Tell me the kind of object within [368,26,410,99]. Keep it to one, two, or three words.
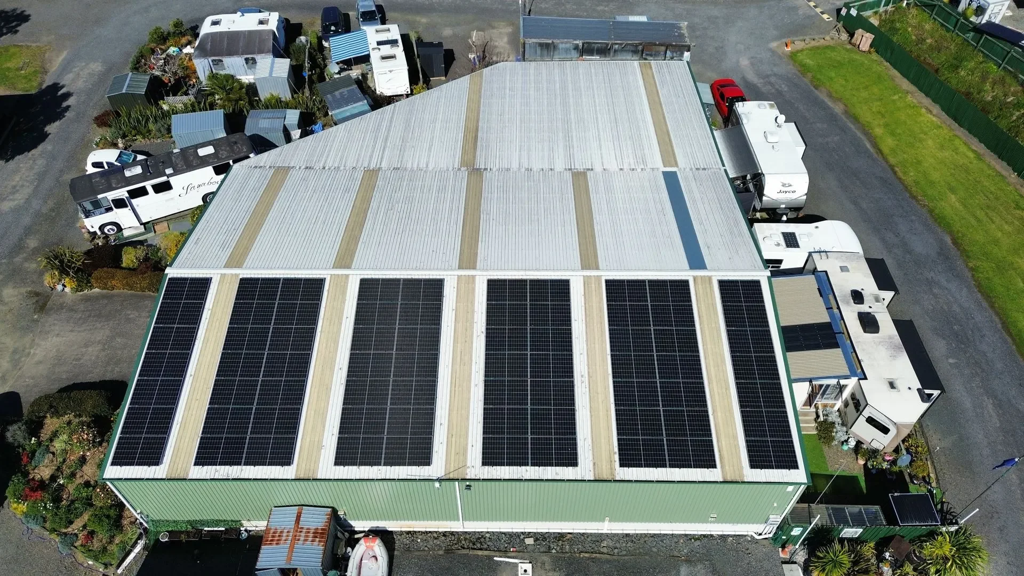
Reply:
camper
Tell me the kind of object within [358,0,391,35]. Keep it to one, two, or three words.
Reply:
car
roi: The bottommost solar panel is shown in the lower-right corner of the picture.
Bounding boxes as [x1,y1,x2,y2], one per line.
[883,492,939,526]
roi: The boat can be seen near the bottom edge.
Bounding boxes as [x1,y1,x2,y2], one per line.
[348,534,387,576]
